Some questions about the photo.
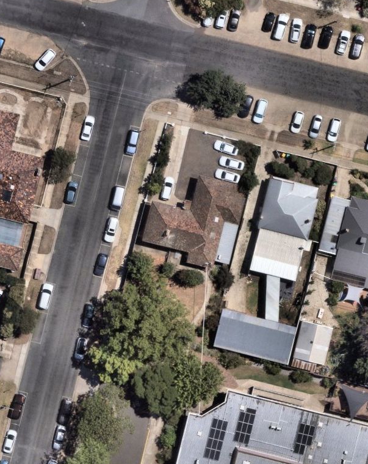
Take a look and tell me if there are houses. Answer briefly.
Yes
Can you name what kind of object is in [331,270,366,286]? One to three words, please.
solar array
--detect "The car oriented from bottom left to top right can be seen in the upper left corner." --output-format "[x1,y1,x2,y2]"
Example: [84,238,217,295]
[35,48,55,72]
